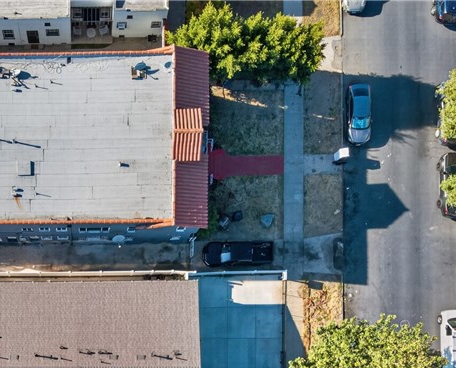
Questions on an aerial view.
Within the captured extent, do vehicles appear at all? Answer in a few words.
Yes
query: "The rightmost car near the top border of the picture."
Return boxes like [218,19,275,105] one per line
[431,0,456,26]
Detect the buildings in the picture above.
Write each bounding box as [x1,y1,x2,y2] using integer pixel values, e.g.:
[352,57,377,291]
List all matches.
[0,36,218,246]
[0,278,203,368]
[0,0,167,45]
